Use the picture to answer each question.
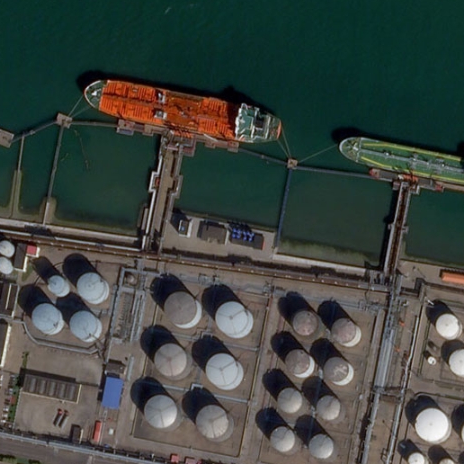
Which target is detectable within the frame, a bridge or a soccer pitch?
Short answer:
bridge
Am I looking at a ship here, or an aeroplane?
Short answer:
ship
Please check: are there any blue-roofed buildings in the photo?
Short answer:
Yes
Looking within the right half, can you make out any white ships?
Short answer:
No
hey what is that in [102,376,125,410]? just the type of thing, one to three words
building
